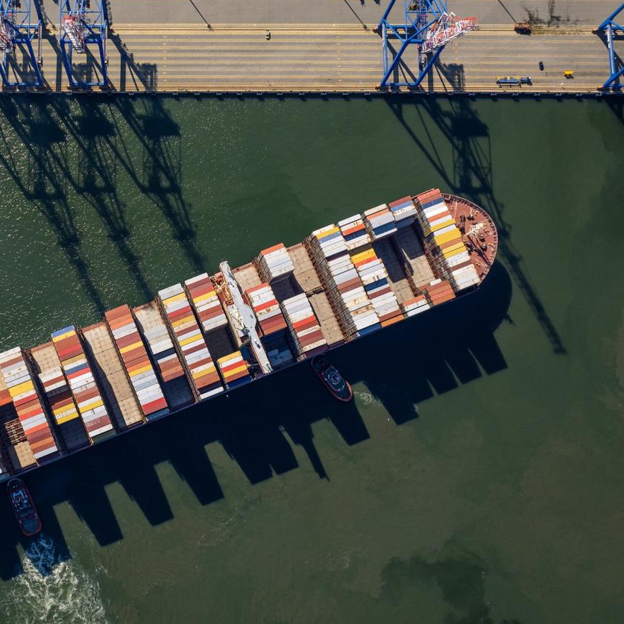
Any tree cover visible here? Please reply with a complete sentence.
No, there is no tree cover in the image.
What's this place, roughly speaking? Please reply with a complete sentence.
This image shows a port.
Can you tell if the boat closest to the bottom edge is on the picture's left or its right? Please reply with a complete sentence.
The boat closest to the bottom edge is on the left side of the image.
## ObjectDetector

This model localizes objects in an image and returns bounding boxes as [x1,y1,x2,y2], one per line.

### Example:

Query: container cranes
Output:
[53,0,116,87]
[590,4,624,88]
[371,0,487,88]
[0,0,53,87]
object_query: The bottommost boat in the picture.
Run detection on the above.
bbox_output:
[8,477,41,539]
